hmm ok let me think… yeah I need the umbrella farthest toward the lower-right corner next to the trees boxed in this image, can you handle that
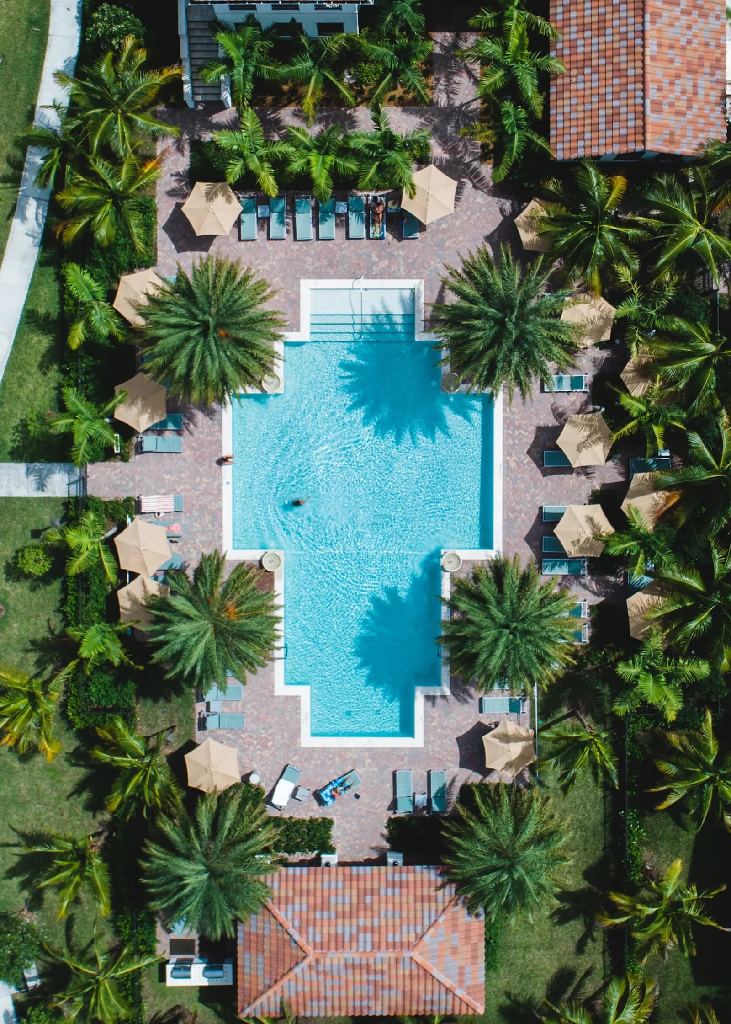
[480,718,536,778]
